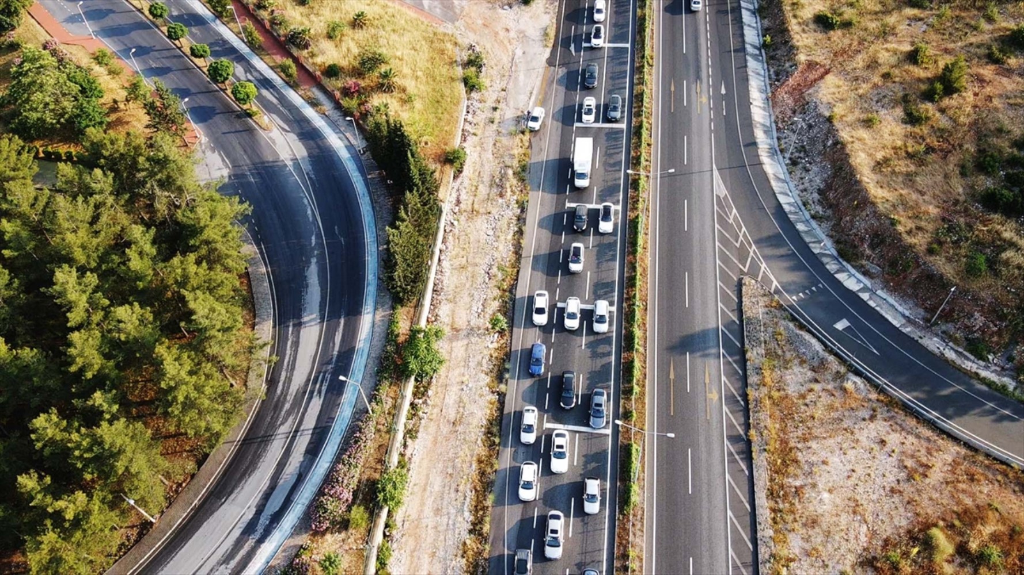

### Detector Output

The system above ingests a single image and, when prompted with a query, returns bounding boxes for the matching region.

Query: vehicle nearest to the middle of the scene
[530,291,550,327]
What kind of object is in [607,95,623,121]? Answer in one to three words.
car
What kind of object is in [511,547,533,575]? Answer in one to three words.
truck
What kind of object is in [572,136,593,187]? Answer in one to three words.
truck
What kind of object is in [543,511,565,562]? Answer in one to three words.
car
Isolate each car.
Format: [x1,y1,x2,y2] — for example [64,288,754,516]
[549,431,570,476]
[590,24,605,47]
[588,389,609,431]
[607,95,623,121]
[562,297,581,331]
[690,0,702,10]
[583,64,599,88]
[567,242,586,275]
[527,341,548,380]
[543,511,565,562]
[592,0,606,21]
[581,475,602,519]
[518,404,539,448]
[525,107,546,131]
[597,203,615,235]
[516,458,539,505]
[591,300,610,334]
[571,202,589,234]
[558,370,578,412]
[580,97,596,124]
[530,291,550,327]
